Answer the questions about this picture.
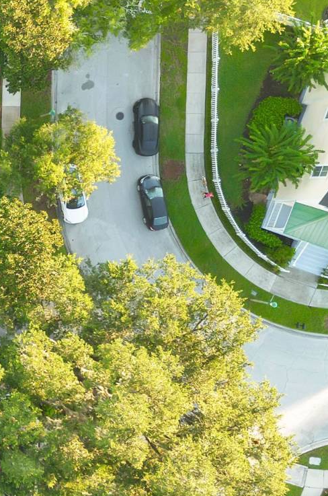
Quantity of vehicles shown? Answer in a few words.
three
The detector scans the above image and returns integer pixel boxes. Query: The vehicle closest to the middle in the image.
[135,175,165,230]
